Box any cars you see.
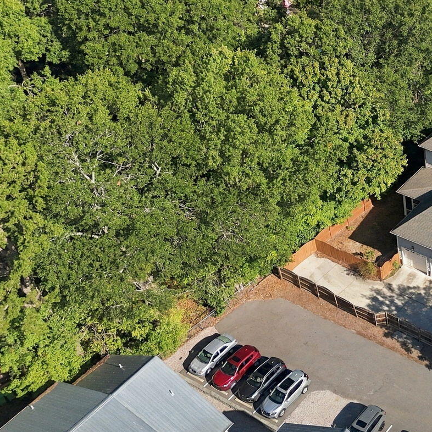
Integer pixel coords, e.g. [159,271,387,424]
[215,336,266,387]
[191,325,243,373]
[344,397,391,432]
[239,350,290,401]
[263,365,314,418]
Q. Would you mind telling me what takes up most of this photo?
trees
